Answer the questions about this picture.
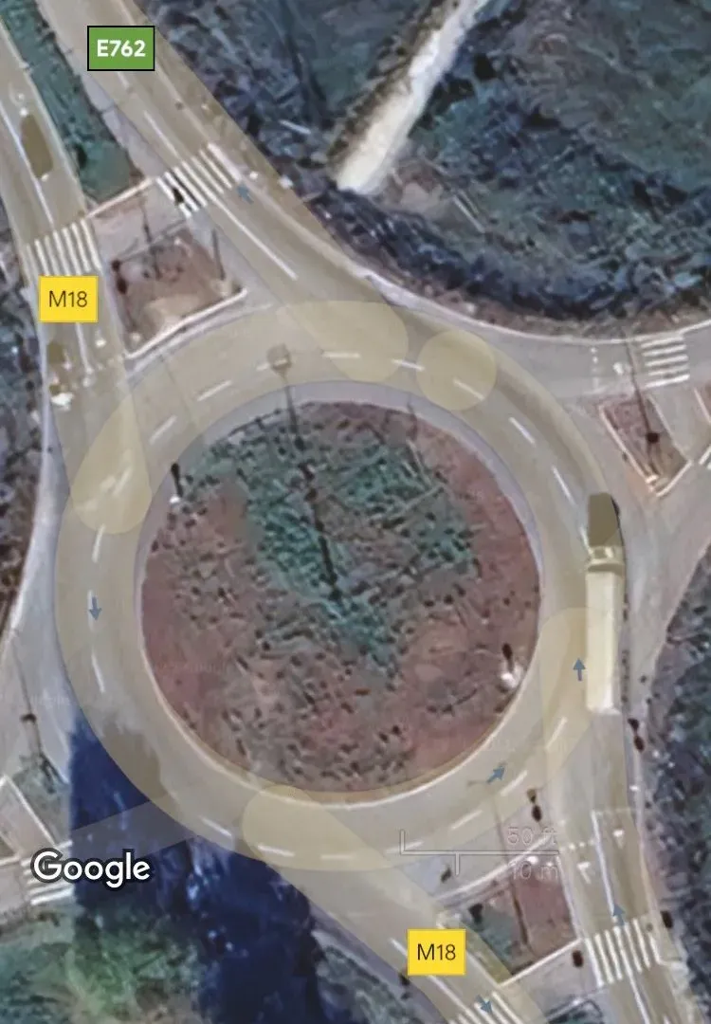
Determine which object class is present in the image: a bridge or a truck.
truck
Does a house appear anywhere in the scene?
No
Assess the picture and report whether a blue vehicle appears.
No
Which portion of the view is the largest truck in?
right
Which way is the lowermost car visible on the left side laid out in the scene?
from top to bottom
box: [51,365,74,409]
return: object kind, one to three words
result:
car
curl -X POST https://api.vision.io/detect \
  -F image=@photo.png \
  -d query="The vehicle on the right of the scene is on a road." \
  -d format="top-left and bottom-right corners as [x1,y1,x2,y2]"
[588,527,621,712]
